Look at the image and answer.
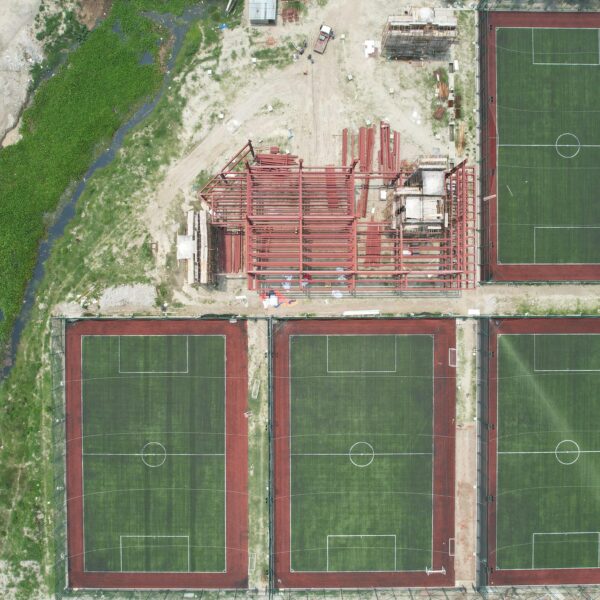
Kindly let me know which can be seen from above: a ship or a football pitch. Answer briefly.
football pitch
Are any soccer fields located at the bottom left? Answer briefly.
Yes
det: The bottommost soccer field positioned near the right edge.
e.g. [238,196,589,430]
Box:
[480,318,600,587]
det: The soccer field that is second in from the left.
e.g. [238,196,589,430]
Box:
[272,318,456,588]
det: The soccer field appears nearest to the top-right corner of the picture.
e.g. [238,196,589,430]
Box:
[480,11,600,282]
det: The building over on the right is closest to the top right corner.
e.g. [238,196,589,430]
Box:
[380,7,460,54]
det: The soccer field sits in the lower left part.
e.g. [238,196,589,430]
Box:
[66,319,250,589]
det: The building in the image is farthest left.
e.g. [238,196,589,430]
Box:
[177,210,216,285]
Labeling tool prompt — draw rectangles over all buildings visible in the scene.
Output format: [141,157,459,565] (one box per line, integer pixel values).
[380,7,460,54]
[249,0,277,25]
[200,140,476,298]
